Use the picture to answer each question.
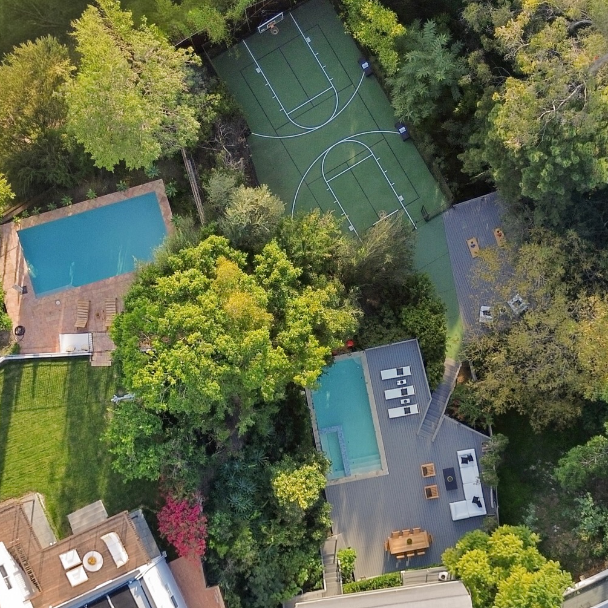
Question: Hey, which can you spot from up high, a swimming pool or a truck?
swimming pool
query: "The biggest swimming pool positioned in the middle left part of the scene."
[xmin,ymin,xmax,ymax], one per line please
[2,181,171,310]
